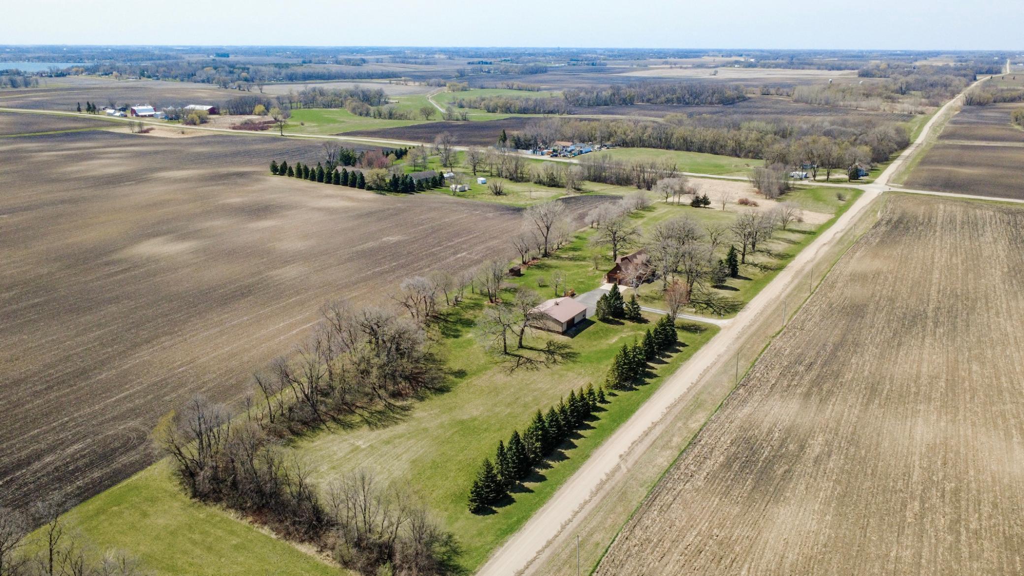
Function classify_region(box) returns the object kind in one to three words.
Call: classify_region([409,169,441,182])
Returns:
shed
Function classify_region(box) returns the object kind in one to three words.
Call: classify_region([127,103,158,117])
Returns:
barn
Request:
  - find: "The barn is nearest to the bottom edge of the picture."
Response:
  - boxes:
[528,297,589,334]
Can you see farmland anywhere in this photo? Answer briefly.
Yes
